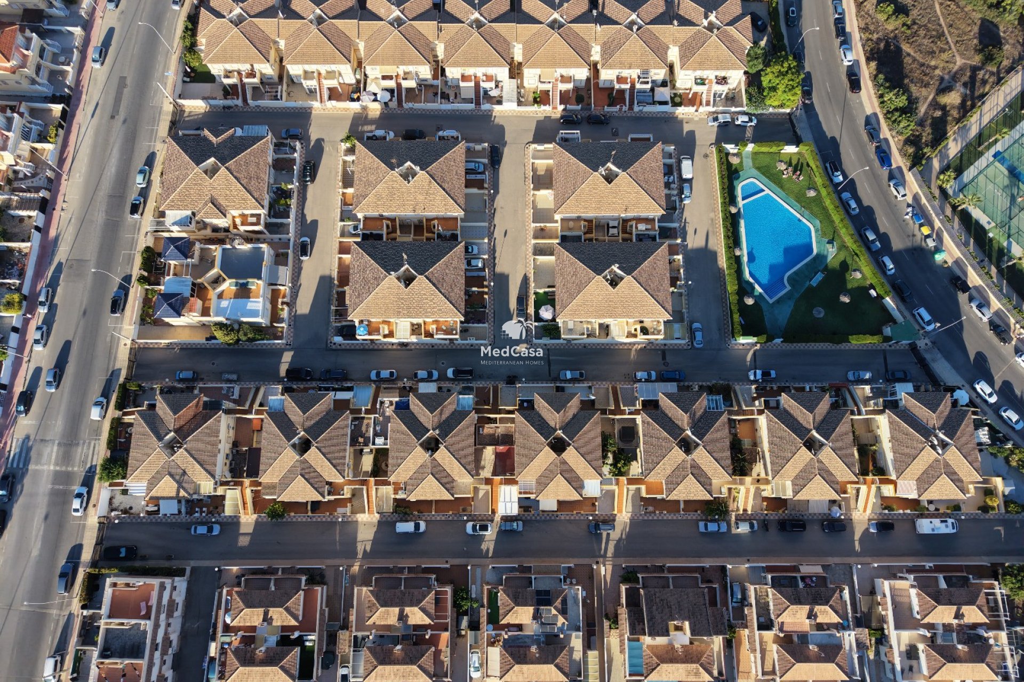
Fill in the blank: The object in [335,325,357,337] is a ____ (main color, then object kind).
black vehicle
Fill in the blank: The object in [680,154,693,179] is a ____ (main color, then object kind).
white vehicle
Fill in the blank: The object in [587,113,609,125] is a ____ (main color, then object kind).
black vehicle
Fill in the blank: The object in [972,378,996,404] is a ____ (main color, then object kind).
white car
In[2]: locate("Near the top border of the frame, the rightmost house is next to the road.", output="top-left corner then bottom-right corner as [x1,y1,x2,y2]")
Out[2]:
[669,0,755,107]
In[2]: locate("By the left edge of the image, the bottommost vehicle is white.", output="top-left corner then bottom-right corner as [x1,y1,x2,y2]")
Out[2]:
[40,651,64,682]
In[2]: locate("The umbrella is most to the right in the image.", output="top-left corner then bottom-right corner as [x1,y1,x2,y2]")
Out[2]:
[952,390,967,405]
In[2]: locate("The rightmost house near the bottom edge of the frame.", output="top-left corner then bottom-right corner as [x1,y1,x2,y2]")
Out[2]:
[881,571,1005,682]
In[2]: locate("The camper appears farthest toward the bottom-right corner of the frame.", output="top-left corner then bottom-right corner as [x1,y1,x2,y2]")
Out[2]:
[910,518,957,534]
